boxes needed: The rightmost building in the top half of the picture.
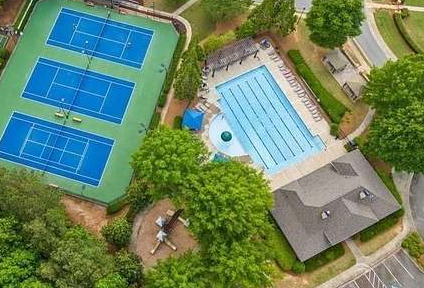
[340,76,370,102]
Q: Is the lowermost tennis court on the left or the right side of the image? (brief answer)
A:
left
